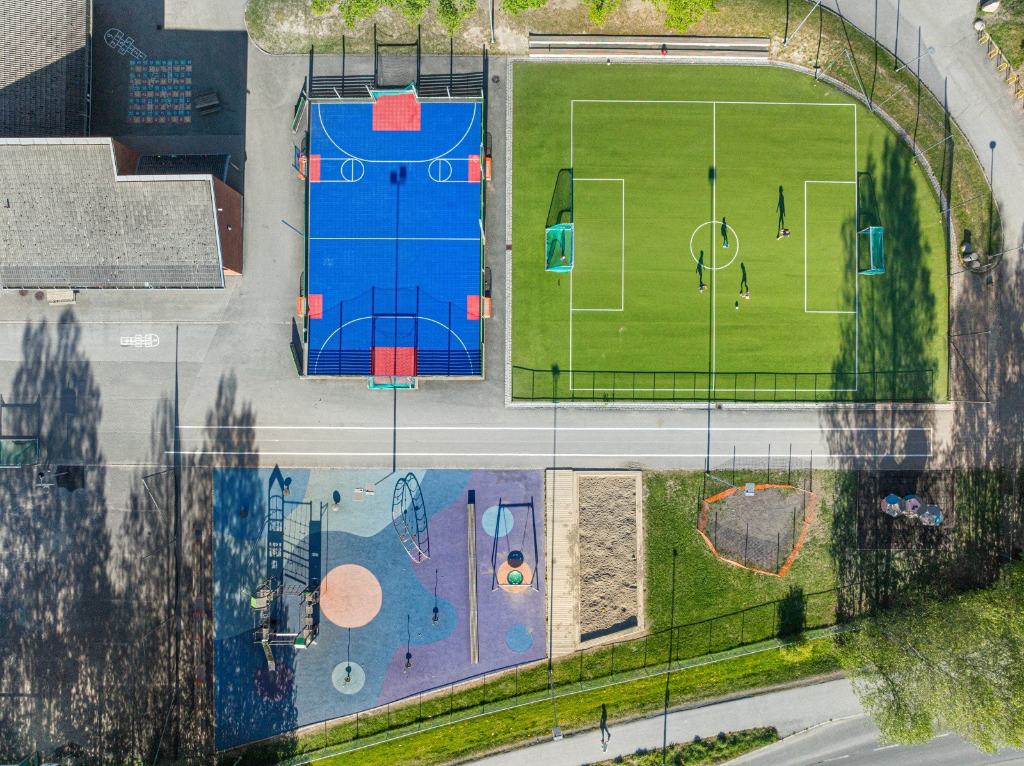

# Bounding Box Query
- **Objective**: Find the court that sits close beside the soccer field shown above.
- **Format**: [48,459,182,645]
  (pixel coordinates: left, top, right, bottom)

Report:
[300,89,488,387]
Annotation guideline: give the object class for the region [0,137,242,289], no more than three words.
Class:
building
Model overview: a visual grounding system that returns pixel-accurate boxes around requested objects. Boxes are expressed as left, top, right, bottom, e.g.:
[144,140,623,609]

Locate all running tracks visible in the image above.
[165,426,932,456]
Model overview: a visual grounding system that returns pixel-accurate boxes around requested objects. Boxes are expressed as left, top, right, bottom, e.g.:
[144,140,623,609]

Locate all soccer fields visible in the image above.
[513,62,949,402]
